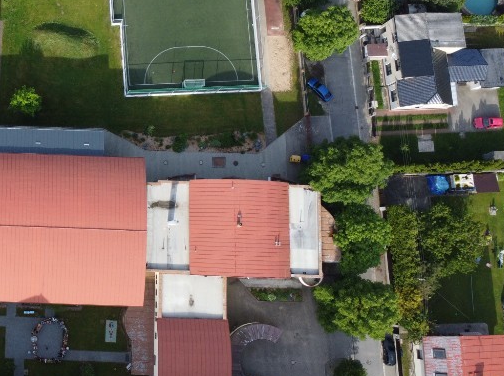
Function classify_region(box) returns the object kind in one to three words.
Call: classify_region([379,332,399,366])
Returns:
car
